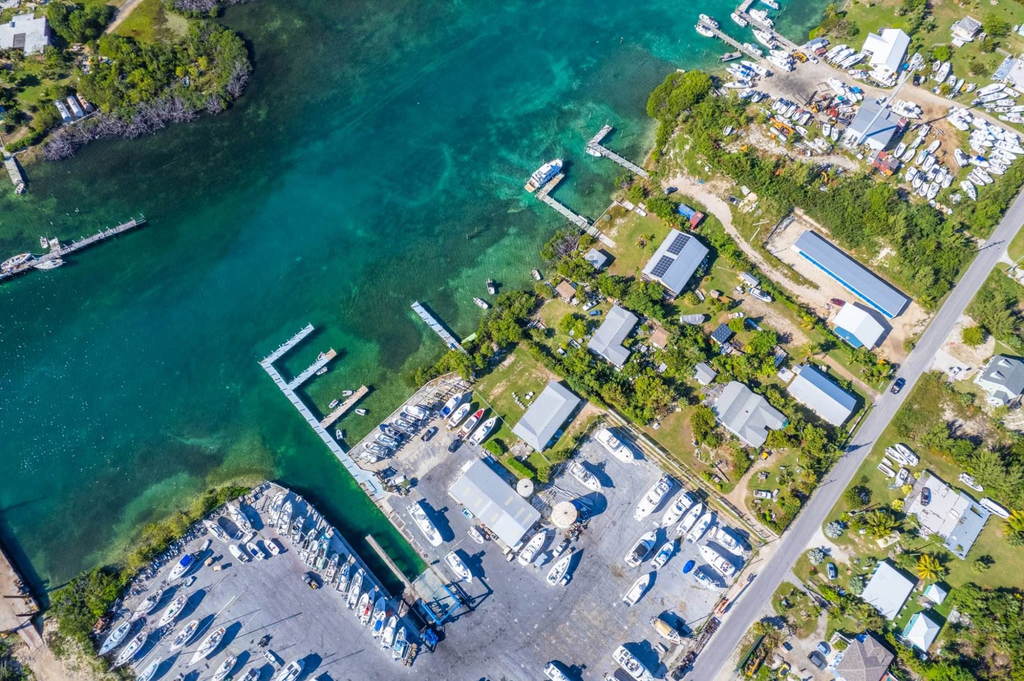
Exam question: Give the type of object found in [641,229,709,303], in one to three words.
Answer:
house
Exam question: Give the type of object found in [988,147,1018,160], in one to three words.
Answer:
boat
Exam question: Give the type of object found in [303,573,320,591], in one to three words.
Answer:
vehicle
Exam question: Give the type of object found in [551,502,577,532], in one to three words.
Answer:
water tank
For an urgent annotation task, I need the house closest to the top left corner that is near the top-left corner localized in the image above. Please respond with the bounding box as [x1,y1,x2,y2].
[0,13,54,64]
